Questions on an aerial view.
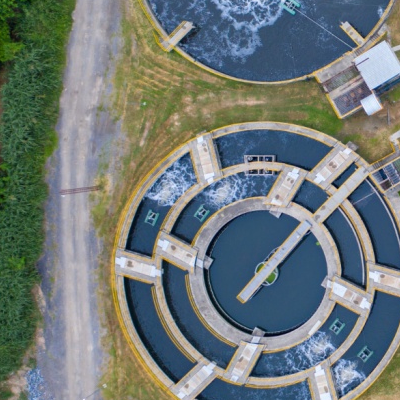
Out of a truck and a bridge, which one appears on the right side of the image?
bridge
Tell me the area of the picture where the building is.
top right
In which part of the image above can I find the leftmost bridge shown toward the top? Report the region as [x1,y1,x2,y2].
[188,131,224,182]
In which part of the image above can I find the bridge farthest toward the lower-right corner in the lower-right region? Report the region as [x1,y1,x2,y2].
[305,364,339,400]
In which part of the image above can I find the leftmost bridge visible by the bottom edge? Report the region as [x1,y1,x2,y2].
[173,358,222,400]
